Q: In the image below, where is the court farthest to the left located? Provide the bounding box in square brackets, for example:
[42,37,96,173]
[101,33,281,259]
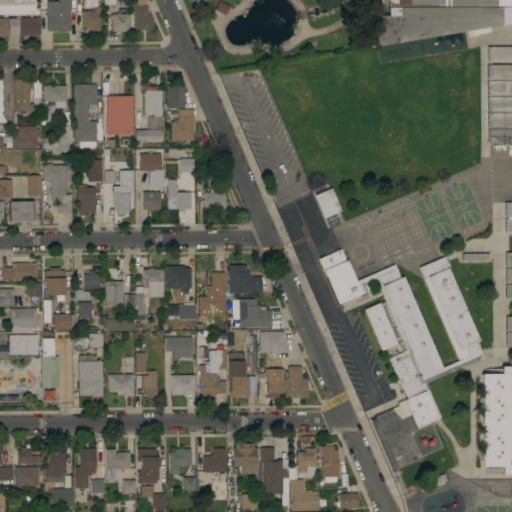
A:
[414,192,456,242]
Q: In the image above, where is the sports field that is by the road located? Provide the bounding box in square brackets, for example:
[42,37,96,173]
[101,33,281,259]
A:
[262,47,480,223]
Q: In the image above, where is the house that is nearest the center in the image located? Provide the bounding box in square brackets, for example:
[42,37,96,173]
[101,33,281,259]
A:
[230,265,262,293]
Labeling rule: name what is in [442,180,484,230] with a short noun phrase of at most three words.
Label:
basketball court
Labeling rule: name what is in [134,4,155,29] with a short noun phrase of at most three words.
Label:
house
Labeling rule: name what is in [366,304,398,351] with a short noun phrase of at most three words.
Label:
building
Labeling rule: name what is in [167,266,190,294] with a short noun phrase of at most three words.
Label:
house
